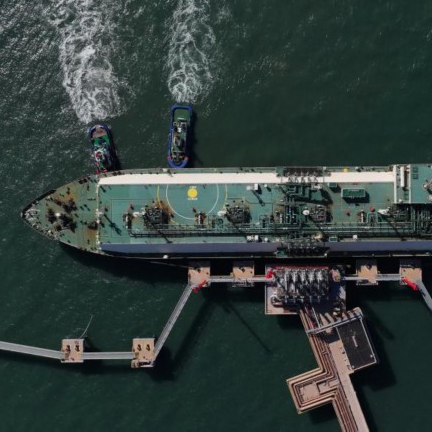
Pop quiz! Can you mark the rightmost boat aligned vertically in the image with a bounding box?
[166,104,194,168]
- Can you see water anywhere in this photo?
Yes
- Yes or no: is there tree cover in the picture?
No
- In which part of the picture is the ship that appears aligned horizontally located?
center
